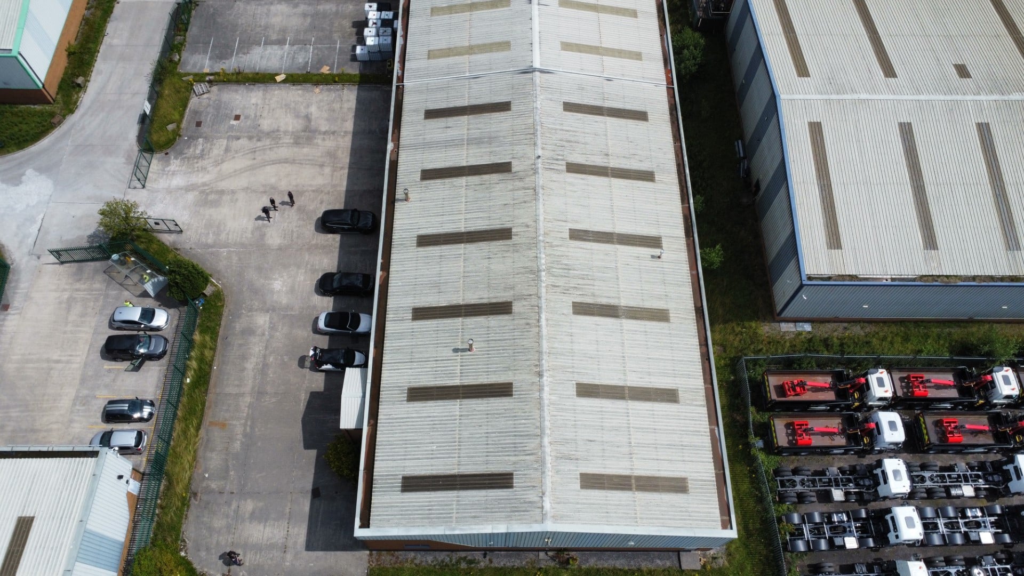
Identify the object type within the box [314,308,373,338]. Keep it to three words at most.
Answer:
car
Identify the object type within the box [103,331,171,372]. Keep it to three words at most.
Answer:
car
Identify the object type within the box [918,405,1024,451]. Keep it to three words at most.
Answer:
truck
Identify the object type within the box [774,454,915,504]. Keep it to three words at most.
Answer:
truck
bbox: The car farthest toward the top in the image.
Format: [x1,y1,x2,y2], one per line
[320,207,379,235]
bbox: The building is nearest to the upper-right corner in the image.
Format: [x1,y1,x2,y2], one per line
[727,0,1024,319]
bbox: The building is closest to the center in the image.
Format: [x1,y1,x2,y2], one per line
[340,0,737,552]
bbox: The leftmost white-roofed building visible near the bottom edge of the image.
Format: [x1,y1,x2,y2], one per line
[0,442,142,576]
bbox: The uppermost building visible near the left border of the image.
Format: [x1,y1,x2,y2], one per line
[0,0,87,104]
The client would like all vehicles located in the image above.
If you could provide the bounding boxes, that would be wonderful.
[110,304,171,334]
[103,331,171,372]
[774,454,915,504]
[320,207,379,235]
[918,405,1024,451]
[102,396,159,426]
[314,308,373,338]
[772,406,910,455]
[763,369,897,416]
[918,499,1024,547]
[308,344,370,374]
[906,455,1024,501]
[317,269,376,299]
[89,426,154,457]
[784,500,929,553]
[888,364,1024,412]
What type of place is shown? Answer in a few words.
industrial area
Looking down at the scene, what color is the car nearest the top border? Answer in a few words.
black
